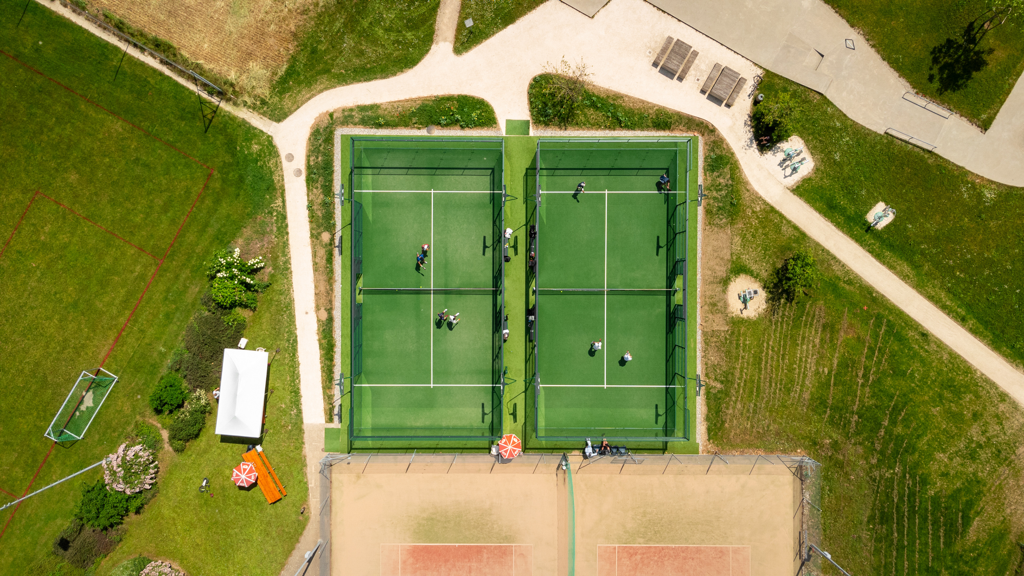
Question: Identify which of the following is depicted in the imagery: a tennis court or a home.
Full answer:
There is a tennis court in the scene.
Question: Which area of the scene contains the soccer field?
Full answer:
The soccer field is located in the left region of the scene.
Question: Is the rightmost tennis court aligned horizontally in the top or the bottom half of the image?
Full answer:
You can find the rightmost tennis court aligned horizontally in the bottom half.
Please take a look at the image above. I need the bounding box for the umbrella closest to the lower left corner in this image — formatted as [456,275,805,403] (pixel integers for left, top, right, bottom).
[232,463,257,488]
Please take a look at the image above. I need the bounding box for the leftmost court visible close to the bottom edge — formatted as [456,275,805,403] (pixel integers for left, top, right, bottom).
[330,455,558,576]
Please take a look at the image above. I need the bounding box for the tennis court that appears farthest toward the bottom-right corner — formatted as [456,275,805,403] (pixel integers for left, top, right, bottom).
[558,454,802,576]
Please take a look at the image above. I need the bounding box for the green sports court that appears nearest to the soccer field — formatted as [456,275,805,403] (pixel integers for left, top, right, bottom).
[349,135,504,441]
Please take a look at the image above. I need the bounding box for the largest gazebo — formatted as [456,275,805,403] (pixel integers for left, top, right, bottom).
[216,348,280,437]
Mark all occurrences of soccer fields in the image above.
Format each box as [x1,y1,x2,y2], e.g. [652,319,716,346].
[0,0,239,576]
